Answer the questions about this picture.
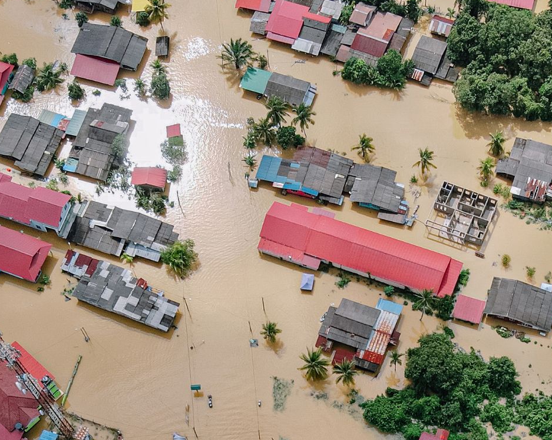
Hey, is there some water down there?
Yes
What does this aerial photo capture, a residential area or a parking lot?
residential area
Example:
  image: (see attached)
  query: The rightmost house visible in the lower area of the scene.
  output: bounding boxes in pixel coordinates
[484,277,552,335]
